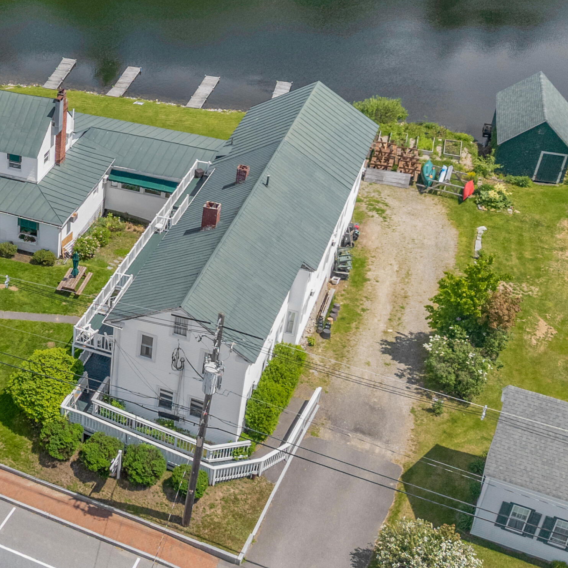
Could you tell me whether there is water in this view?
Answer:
Yes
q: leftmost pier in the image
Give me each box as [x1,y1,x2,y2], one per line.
[43,57,76,89]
